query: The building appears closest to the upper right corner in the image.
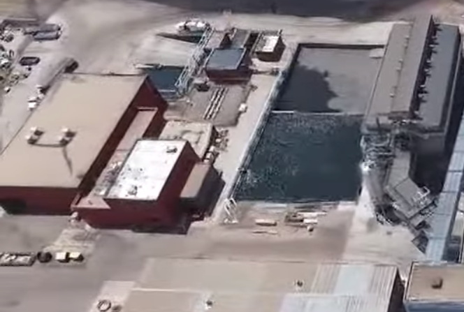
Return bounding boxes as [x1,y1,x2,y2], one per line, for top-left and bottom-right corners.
[361,7,464,163]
